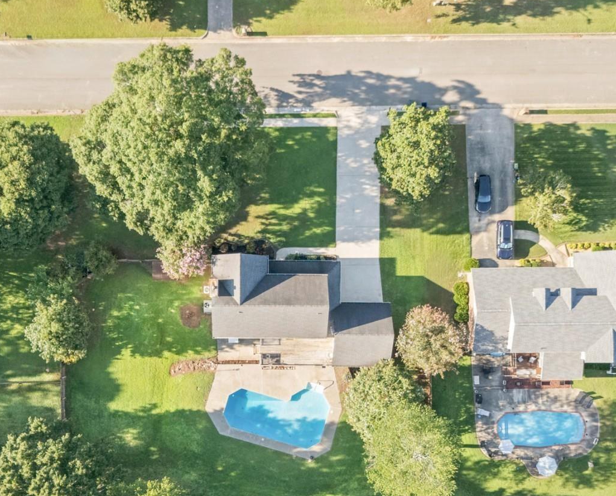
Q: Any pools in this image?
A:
Yes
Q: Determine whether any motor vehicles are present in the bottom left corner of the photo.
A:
No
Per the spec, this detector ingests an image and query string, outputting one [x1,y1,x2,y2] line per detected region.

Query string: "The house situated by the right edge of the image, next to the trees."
[468,250,616,380]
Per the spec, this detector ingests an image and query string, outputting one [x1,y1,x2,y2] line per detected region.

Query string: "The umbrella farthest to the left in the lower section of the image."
[498,439,513,453]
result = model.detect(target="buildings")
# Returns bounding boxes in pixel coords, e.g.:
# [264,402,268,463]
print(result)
[209,253,394,366]
[468,250,616,380]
